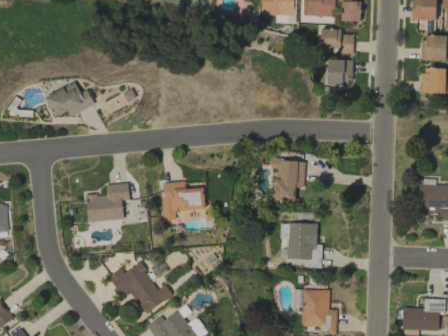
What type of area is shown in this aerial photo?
residential area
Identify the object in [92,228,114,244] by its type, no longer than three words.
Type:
swimming pool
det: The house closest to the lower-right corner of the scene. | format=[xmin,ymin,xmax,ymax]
[403,299,446,336]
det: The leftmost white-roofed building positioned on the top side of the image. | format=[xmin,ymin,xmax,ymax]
[6,95,34,118]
